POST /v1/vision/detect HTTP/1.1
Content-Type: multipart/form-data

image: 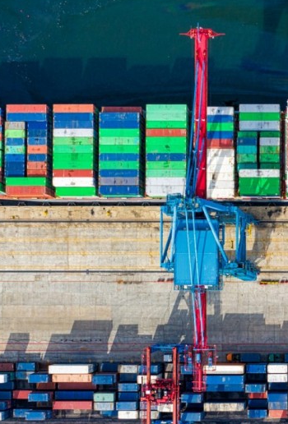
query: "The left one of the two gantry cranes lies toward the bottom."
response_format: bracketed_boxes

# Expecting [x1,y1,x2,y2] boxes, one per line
[141,342,195,424]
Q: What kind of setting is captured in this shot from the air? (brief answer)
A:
port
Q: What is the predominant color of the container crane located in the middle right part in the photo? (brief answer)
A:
blue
